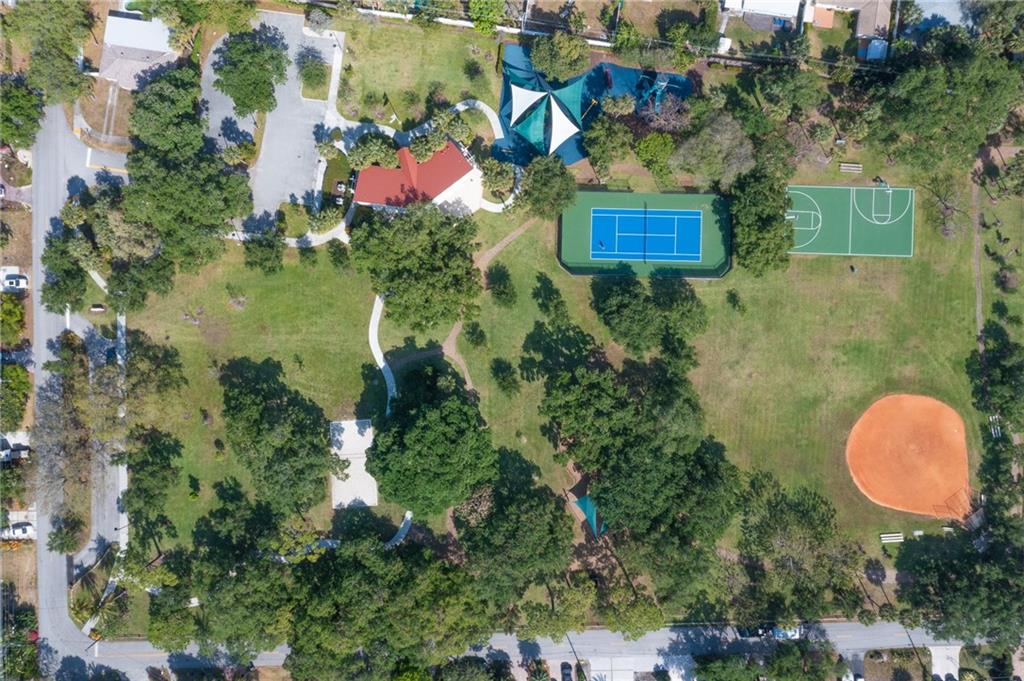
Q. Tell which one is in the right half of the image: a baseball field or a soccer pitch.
baseball field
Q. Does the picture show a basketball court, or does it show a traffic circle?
basketball court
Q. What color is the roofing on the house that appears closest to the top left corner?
white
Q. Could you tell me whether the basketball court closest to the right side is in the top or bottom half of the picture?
top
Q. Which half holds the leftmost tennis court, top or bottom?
top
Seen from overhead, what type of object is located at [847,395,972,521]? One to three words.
baseball field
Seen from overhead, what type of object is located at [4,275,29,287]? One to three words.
vehicle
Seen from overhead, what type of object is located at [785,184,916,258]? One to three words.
basketball court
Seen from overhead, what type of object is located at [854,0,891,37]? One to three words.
house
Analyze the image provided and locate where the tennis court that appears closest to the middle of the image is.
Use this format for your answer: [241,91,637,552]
[558,190,731,277]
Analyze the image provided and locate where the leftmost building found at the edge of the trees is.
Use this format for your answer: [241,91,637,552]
[88,10,177,93]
